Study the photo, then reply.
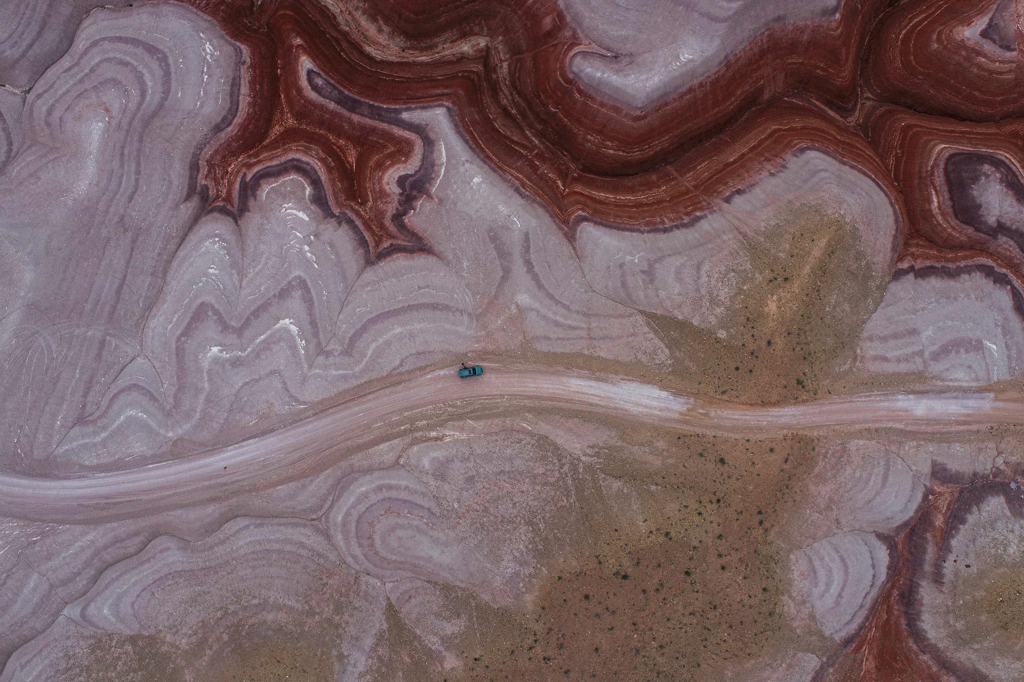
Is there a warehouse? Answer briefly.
No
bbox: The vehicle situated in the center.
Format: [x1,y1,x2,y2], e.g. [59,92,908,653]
[457,366,482,379]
